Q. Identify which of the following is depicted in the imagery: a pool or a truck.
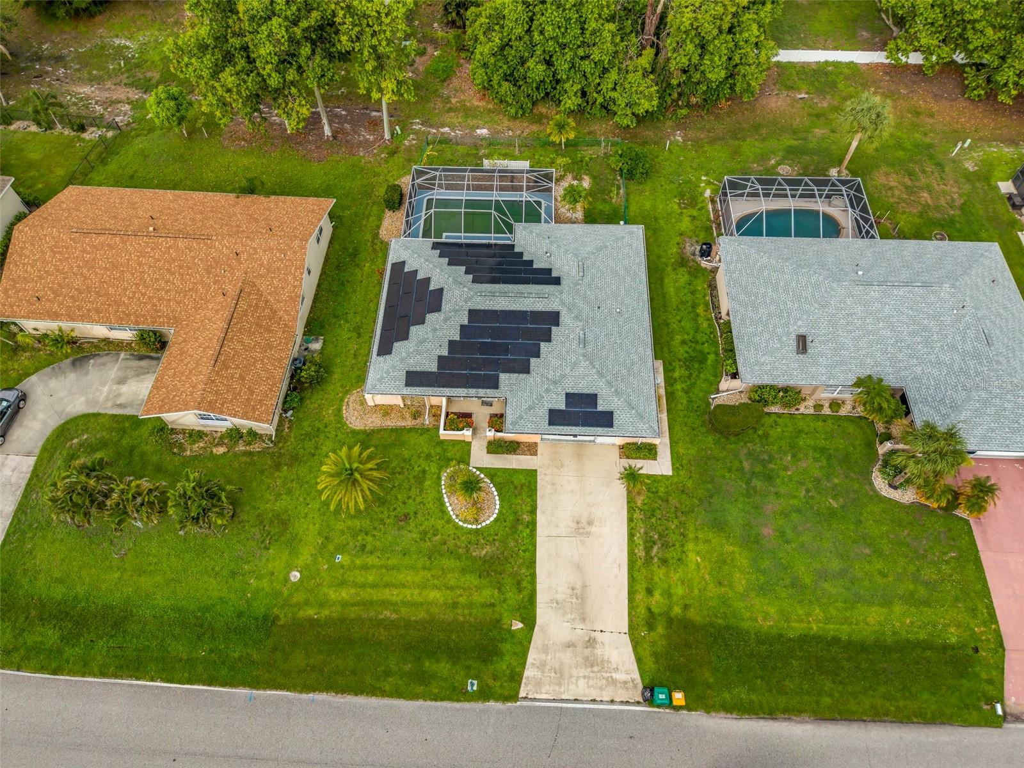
pool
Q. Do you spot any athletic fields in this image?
No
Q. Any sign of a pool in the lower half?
No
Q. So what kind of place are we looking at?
residential area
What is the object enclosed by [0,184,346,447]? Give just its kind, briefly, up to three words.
house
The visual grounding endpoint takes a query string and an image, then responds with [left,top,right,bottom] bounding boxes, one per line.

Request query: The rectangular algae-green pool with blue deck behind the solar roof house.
[412,190,552,242]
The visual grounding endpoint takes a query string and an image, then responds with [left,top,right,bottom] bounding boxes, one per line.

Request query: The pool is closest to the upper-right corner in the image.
[731,201,856,239]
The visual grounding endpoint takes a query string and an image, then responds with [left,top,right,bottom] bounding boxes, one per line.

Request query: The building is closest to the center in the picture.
[362,222,663,446]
